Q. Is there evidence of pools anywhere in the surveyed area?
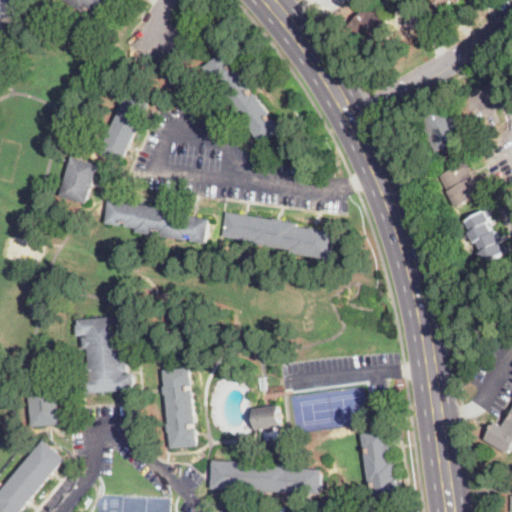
Yes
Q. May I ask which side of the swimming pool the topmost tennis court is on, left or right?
right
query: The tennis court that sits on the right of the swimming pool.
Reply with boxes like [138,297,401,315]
[290,386,370,432]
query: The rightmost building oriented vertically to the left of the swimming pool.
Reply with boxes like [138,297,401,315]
[161,369,196,448]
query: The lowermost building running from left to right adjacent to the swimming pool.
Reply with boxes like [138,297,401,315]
[209,460,321,496]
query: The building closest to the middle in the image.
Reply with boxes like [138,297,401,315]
[222,213,328,259]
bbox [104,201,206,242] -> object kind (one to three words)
building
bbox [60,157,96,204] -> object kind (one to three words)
house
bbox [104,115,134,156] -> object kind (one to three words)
house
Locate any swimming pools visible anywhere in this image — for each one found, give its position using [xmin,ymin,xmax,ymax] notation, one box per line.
[211,379,252,435]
